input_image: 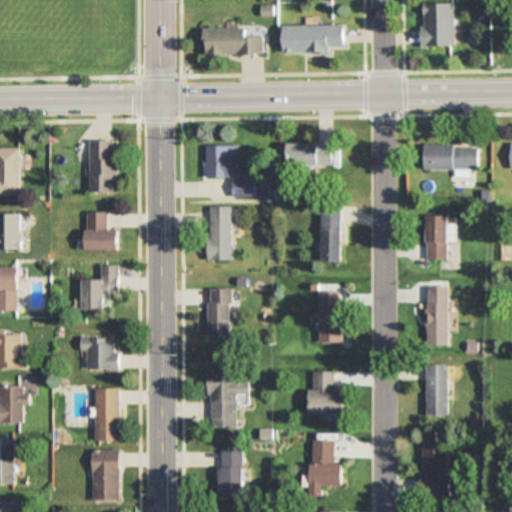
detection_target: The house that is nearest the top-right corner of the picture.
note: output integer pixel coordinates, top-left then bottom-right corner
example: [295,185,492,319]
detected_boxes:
[418,2,457,49]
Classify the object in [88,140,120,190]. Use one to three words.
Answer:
house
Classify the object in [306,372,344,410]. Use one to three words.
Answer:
house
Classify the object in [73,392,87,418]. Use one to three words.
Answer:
swimming pool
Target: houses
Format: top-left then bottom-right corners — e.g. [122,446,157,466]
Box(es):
[284,142,334,168]
[0,214,22,250]
[80,265,121,310]
[88,450,122,500]
[425,365,449,417]
[0,386,24,425]
[0,333,23,368]
[278,25,346,56]
[320,204,342,262]
[306,441,343,496]
[420,144,480,172]
[218,450,243,498]
[0,266,18,312]
[424,286,450,346]
[206,289,234,337]
[200,28,264,58]
[418,2,457,49]
[306,372,344,410]
[424,216,448,262]
[318,292,345,344]
[79,335,120,372]
[205,207,235,262]
[204,146,260,200]
[205,378,251,429]
[81,212,118,250]
[96,388,121,442]
[88,140,120,190]
[420,446,449,502]
[0,148,23,191]
[0,460,16,486]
